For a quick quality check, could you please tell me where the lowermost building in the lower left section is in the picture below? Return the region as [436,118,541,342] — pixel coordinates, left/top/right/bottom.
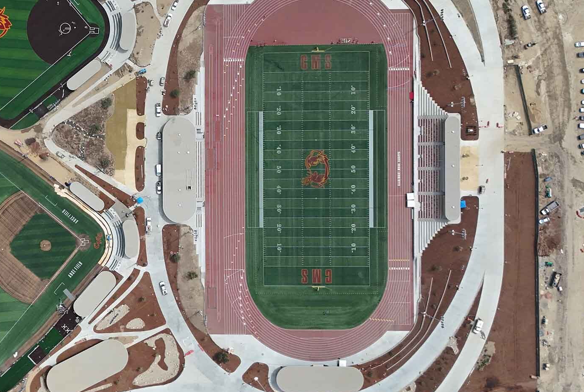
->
[45,340,129,392]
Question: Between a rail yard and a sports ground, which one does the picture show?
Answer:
sports ground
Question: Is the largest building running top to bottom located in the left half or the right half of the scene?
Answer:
left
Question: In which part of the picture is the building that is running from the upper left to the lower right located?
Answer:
left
